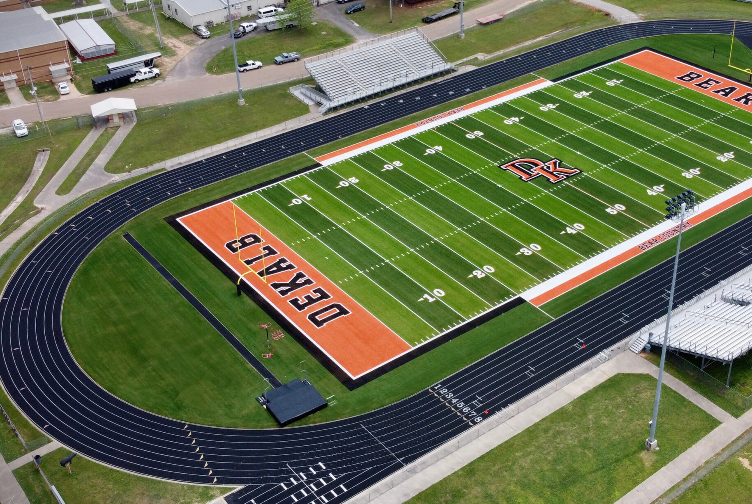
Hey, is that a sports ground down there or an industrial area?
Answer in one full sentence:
It's a sports ground.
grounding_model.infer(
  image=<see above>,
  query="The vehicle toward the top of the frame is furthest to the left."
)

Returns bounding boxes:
[13,117,27,133]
